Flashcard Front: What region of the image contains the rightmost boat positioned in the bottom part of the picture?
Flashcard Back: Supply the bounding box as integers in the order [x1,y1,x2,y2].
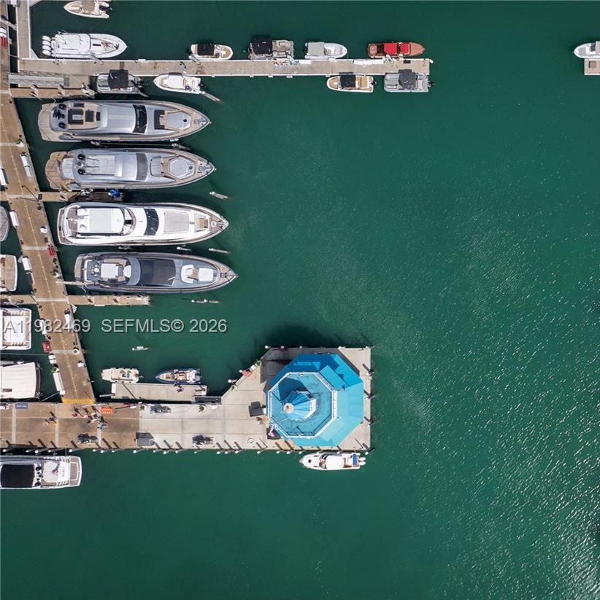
[299,453,368,470]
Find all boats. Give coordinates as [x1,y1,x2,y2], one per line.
[0,308,34,350]
[46,149,216,190]
[299,453,368,470]
[574,41,600,58]
[39,102,210,144]
[302,42,348,58]
[64,0,111,19]
[154,74,209,94]
[0,454,82,490]
[43,32,129,59]
[63,254,237,295]
[384,74,435,92]
[97,70,148,95]
[246,39,295,59]
[0,254,19,291]
[327,75,380,92]
[58,204,229,248]
[368,42,424,57]
[186,43,234,59]
[155,368,201,384]
[102,367,148,383]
